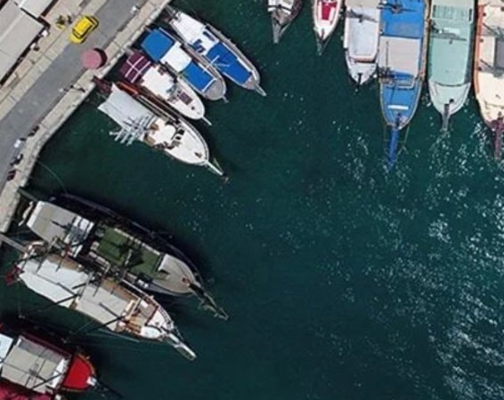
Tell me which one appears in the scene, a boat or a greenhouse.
boat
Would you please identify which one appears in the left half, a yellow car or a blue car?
yellow car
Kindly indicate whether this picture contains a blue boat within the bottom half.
No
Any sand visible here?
No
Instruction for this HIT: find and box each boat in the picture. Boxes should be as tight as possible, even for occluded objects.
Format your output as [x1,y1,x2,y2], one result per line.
[367,0,431,167]
[0,228,196,359]
[428,0,477,130]
[111,52,212,126]
[339,0,384,94]
[135,27,227,99]
[474,0,504,161]
[0,374,64,400]
[3,169,229,319]
[260,0,301,42]
[310,0,344,54]
[155,1,267,95]
[0,316,123,400]
[76,75,225,176]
